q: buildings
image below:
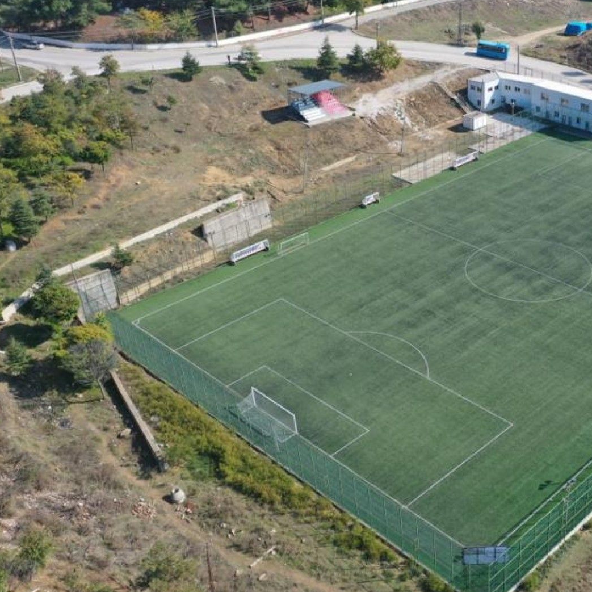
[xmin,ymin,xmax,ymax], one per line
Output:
[463,110,486,129]
[467,66,592,134]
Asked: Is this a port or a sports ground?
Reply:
sports ground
